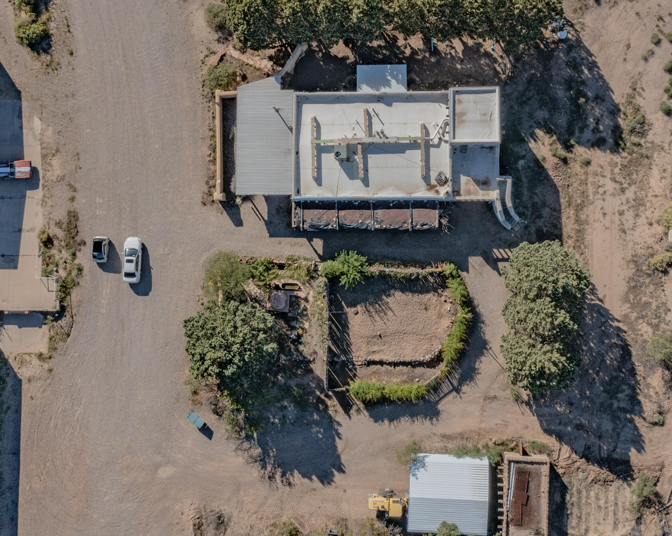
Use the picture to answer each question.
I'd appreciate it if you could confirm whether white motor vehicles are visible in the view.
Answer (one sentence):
Yes, looking at the shot, I can spot a white motor vehicle.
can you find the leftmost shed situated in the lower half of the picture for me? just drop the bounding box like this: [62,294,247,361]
[407,449,488,536]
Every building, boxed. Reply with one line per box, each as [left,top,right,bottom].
[294,83,500,202]
[496,441,549,536]
[407,449,488,536]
